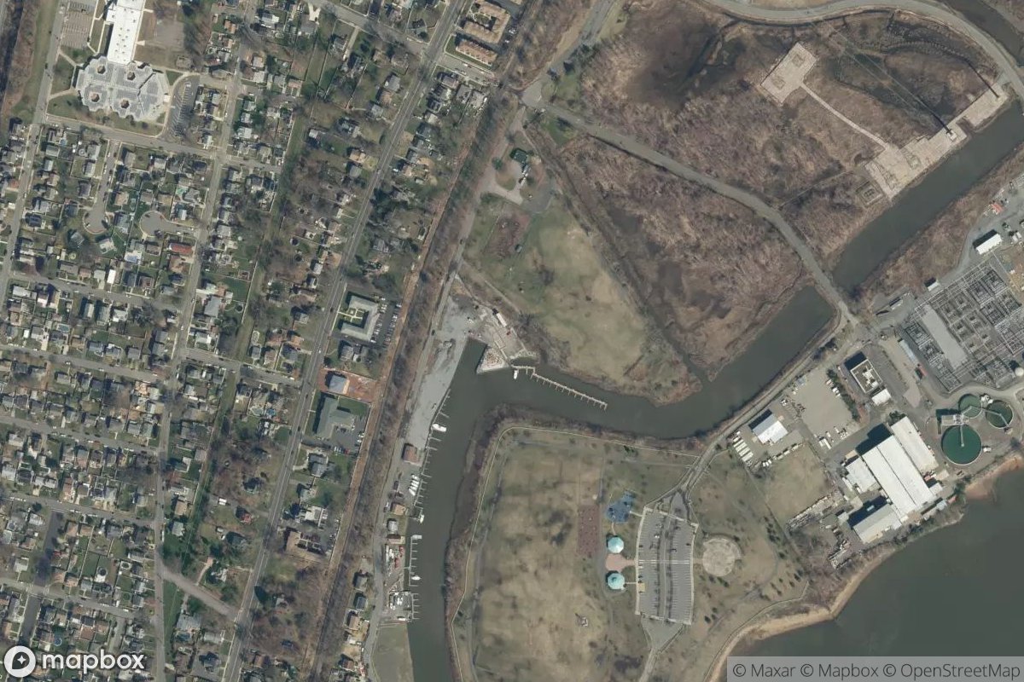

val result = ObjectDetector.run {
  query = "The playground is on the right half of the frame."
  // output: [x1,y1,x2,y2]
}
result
[606,491,636,523]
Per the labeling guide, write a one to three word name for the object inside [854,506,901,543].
building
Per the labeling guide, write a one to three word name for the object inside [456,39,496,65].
house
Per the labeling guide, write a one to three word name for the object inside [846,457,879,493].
building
